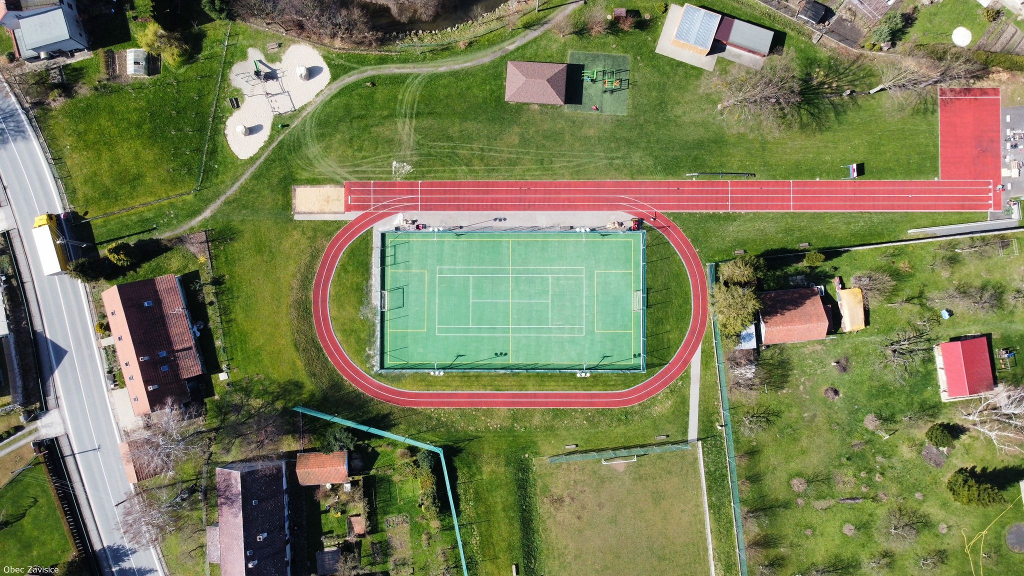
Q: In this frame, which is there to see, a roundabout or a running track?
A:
running track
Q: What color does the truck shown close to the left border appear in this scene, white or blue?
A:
white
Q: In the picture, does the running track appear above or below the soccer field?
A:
above it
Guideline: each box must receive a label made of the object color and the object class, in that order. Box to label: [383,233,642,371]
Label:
green sports court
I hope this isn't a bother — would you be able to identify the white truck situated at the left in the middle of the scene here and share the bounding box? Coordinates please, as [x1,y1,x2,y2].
[32,213,73,276]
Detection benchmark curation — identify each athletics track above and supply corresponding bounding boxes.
[313,87,1002,408]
